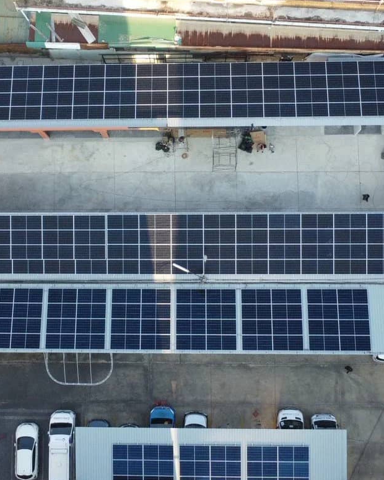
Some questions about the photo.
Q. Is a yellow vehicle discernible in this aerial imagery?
No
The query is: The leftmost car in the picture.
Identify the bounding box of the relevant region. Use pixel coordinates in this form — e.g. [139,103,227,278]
[10,423,38,480]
